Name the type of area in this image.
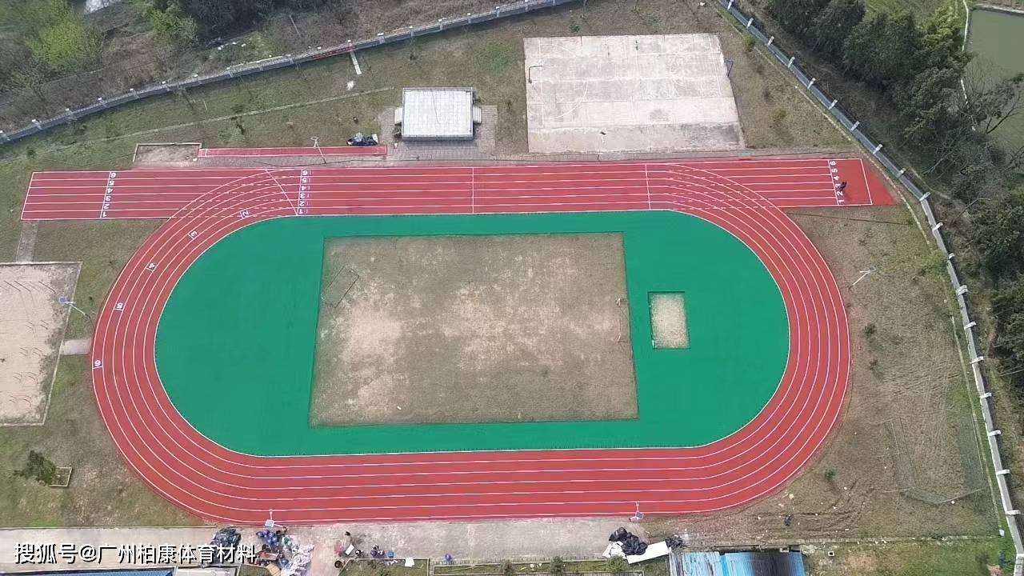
sports ground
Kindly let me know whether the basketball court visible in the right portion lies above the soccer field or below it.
above it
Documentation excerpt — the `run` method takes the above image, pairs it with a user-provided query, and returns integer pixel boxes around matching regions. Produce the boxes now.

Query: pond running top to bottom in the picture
[965,9,1024,174]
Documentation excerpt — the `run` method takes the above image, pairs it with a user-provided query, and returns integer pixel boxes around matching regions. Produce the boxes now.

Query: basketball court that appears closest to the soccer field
[524,33,745,152]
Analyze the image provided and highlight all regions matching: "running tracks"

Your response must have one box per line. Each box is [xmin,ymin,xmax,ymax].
[15,157,894,531]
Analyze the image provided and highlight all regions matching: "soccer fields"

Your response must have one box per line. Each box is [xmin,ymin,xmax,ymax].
[310,233,638,425]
